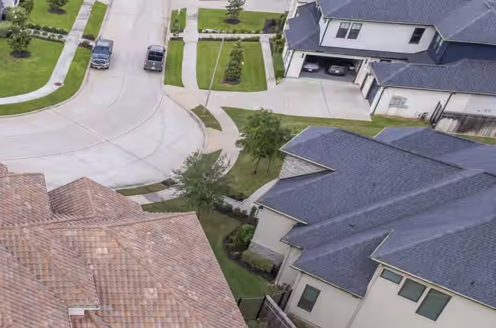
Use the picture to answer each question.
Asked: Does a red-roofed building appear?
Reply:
No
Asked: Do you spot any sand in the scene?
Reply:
No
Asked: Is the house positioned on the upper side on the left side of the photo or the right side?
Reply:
right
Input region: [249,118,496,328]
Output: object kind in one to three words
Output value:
house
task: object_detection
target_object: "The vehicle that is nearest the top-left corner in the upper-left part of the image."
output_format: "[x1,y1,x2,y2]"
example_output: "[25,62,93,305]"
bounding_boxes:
[93,37,115,68]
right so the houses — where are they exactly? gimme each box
[268,0,496,123]
[249,118,496,328]
[0,161,247,328]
